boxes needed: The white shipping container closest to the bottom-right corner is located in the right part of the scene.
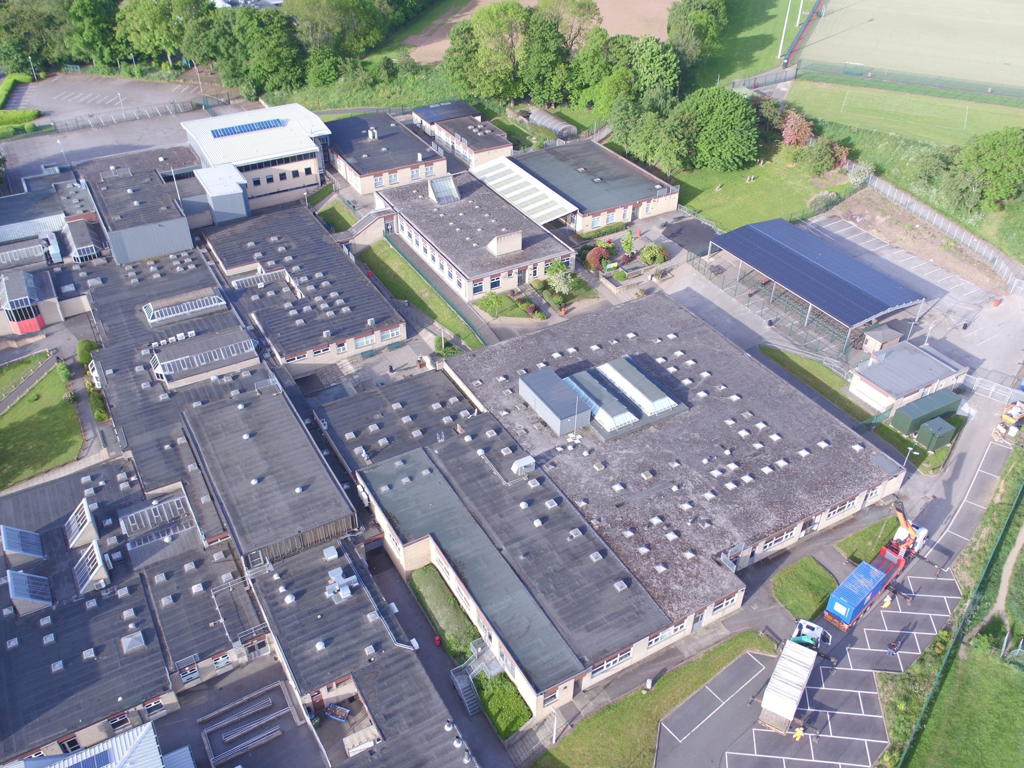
[761,640,817,720]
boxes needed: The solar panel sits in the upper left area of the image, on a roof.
[212,120,284,138]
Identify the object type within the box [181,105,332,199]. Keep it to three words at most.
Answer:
building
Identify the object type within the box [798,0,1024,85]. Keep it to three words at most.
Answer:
sports field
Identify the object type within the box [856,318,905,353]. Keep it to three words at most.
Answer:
shed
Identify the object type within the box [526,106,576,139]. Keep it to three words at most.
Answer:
greenhouse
